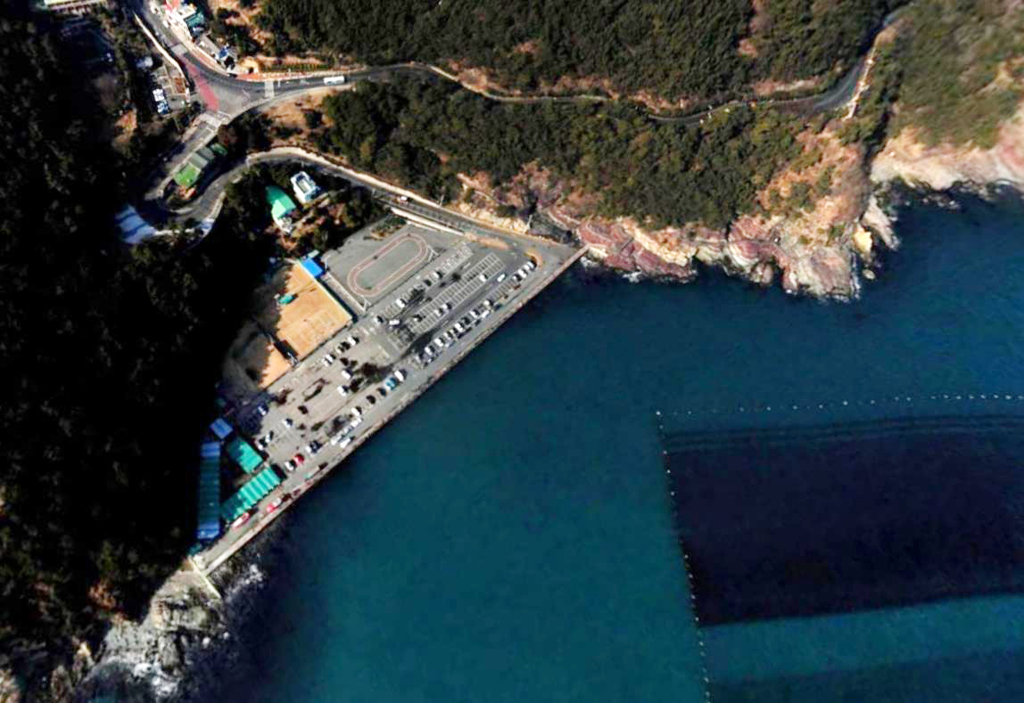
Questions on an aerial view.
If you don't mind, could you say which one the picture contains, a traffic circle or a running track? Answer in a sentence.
There is a running track in the scene.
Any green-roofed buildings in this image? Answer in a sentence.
Yes, a green-roofed building is visible in the scene.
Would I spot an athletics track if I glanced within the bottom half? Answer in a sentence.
No, there's no athletics track to be seen within the bottom half.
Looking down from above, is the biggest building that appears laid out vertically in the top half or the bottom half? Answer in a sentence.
The biggest building that appears laid out vertically is in the bottom half of the image.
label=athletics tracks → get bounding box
[348,232,428,297]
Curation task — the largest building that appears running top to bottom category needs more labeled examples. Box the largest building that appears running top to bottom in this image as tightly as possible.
[197,442,221,543]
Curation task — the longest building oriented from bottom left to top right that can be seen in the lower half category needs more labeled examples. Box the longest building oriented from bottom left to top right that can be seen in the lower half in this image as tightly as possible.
[221,467,281,524]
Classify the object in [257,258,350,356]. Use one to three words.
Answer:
sports court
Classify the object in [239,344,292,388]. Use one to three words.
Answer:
sports court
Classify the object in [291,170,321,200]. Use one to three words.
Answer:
house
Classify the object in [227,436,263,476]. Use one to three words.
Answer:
building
